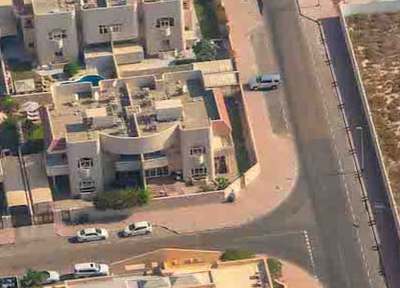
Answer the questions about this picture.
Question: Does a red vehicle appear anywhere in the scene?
No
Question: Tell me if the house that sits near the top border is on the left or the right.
left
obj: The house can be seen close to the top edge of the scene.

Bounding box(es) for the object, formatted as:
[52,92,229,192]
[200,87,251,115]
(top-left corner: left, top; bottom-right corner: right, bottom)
[28,0,204,84]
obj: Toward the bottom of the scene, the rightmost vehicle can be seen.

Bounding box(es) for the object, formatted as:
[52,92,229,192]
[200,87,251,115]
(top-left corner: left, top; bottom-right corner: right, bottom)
[119,218,153,236]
